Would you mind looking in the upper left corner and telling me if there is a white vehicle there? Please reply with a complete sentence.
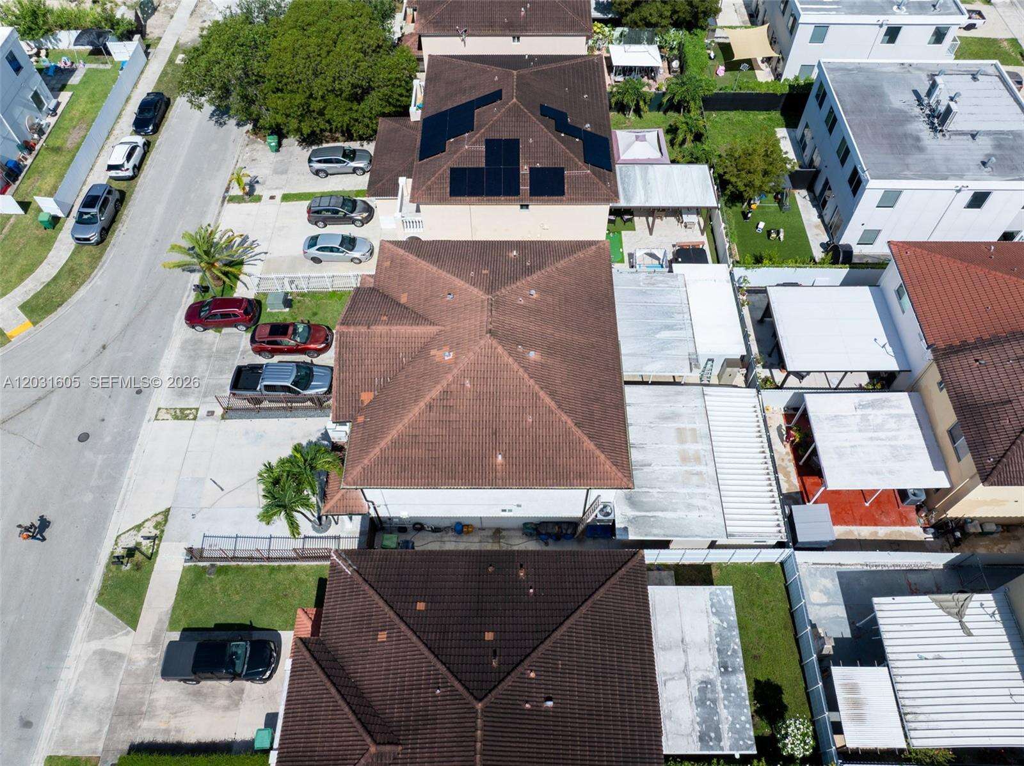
Yes, looking in the upper left corner, one can make out a white vehicle.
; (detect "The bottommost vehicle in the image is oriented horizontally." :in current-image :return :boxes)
[160,631,283,684]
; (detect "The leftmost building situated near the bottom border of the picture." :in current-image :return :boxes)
[273,547,665,766]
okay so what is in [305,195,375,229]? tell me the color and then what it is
gray car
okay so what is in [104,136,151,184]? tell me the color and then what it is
white car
